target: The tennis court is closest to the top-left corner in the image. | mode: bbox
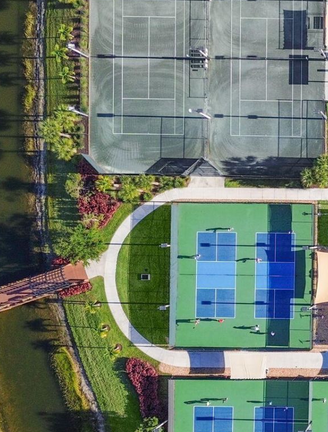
[87,0,208,174]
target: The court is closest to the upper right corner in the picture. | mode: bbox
[207,0,325,176]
